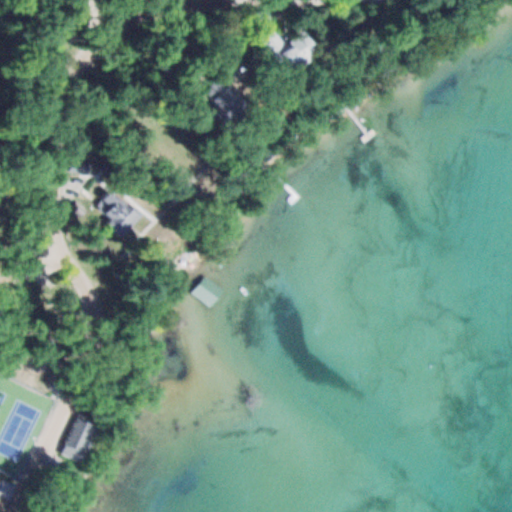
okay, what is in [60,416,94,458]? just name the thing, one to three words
house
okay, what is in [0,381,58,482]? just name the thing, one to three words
tennis court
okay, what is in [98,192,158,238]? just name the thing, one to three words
house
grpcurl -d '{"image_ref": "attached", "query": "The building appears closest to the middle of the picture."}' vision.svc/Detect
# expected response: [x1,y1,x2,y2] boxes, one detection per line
[191,277,223,308]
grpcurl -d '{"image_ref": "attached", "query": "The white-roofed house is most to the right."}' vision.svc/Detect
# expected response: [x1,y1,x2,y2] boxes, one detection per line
[286,34,315,63]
